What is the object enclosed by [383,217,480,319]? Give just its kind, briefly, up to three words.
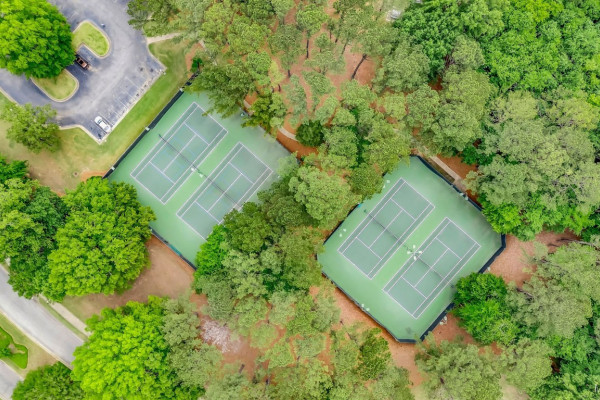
tennis court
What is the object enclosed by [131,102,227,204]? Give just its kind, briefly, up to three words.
tennis court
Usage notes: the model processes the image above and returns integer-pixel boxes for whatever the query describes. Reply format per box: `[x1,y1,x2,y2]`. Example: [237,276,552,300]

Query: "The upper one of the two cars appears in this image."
[71,52,88,69]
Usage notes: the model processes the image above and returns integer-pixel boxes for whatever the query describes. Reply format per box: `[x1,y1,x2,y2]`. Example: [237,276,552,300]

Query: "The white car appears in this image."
[93,115,111,133]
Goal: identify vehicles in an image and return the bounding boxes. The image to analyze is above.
[71,52,88,69]
[93,115,111,133]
